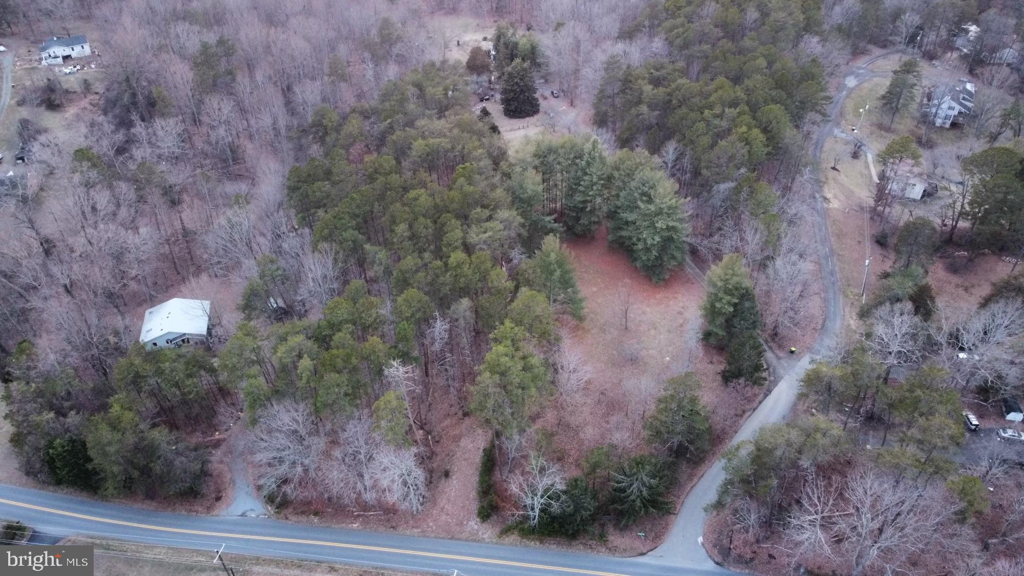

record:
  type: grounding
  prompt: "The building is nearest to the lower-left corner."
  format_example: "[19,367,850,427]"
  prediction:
[138,295,214,360]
